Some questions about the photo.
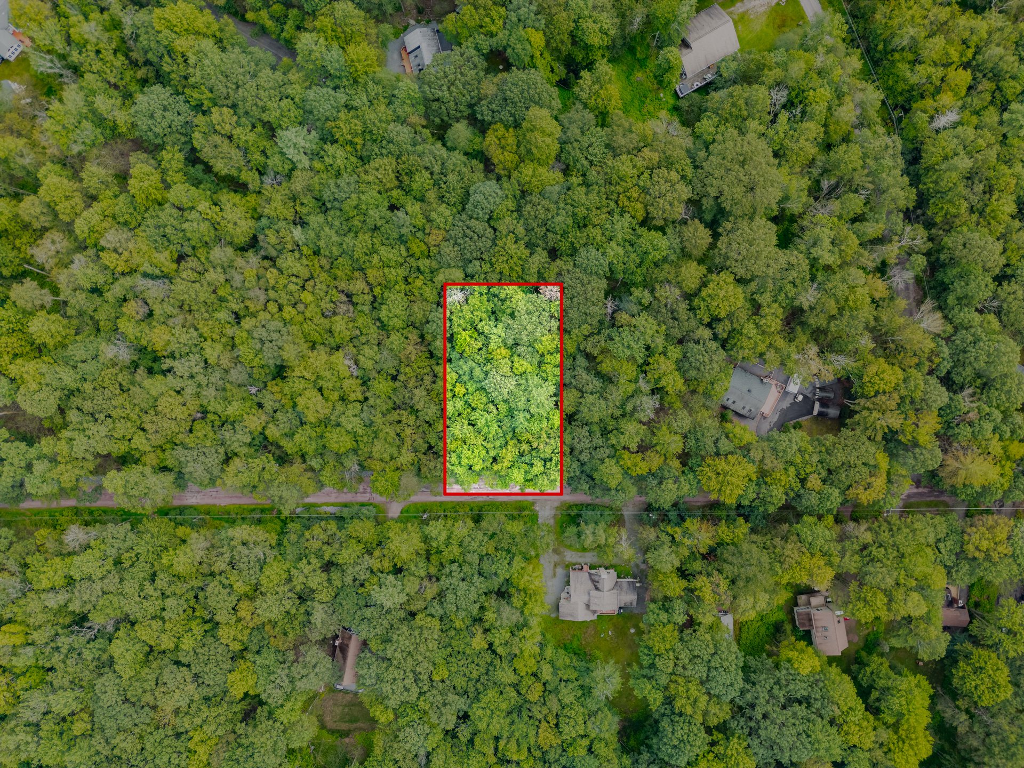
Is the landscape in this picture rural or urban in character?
rural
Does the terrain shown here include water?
No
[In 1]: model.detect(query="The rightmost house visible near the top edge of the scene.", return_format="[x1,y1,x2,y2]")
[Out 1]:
[674,3,740,101]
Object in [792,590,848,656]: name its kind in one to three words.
house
